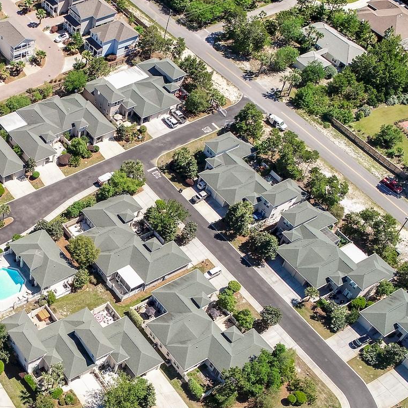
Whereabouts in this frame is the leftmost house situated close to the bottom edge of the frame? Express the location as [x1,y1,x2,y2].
[0,299,165,400]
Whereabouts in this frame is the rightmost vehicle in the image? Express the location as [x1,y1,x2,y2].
[378,179,404,194]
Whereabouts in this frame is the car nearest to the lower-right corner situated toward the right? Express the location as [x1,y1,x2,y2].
[348,333,372,349]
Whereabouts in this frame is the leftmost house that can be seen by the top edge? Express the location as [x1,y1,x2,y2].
[0,13,36,64]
